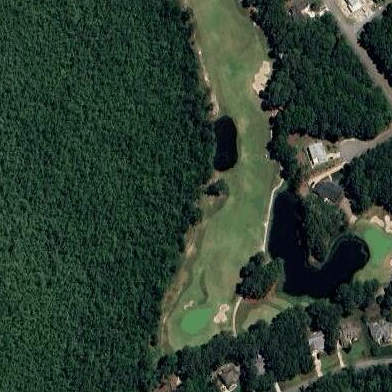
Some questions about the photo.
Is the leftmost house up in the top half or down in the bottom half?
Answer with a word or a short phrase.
bottom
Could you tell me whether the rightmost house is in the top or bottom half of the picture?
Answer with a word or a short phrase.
bottom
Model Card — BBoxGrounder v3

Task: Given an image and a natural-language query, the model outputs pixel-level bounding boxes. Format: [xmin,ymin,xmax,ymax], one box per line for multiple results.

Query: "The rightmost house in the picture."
[370,321,392,343]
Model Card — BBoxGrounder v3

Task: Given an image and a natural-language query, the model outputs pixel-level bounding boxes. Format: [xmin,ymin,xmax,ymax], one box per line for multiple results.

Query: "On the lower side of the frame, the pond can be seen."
[267,188,370,298]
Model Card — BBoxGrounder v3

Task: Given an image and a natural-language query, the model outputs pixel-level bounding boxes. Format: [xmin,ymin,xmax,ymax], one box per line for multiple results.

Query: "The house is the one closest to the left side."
[217,365,240,386]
